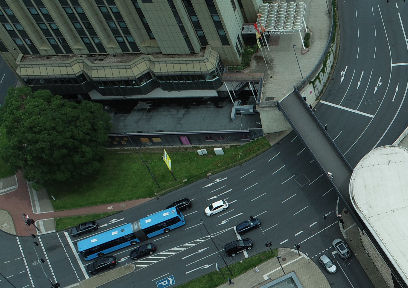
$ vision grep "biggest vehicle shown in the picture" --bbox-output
[78,205,187,257]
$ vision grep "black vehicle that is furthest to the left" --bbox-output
[70,218,98,236]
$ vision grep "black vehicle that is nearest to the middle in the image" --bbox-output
[166,196,193,209]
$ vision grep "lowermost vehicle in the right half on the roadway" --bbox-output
[317,253,335,272]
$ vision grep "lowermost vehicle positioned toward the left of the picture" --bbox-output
[87,255,116,275]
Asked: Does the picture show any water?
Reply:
No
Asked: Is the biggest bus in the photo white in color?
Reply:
No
